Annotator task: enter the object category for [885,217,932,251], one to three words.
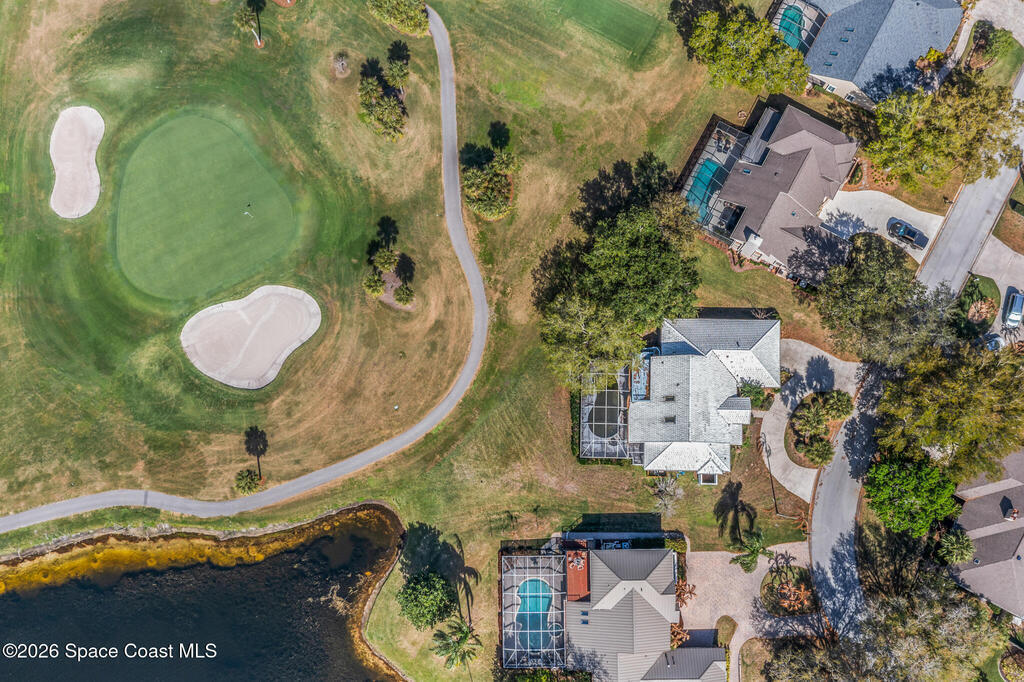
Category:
truck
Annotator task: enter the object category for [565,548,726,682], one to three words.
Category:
house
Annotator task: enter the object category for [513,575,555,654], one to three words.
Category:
swimming pool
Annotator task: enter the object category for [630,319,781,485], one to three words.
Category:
house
